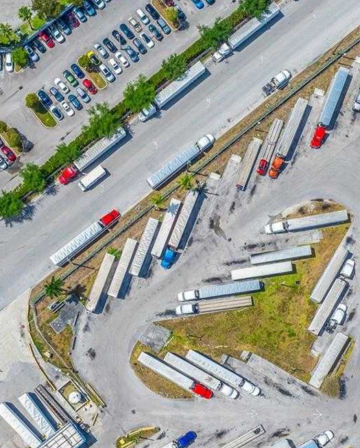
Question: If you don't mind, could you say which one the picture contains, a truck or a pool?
truck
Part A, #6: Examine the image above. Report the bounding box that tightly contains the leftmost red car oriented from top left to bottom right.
[1,147,16,163]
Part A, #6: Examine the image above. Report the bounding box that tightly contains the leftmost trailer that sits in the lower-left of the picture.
[0,403,35,448]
